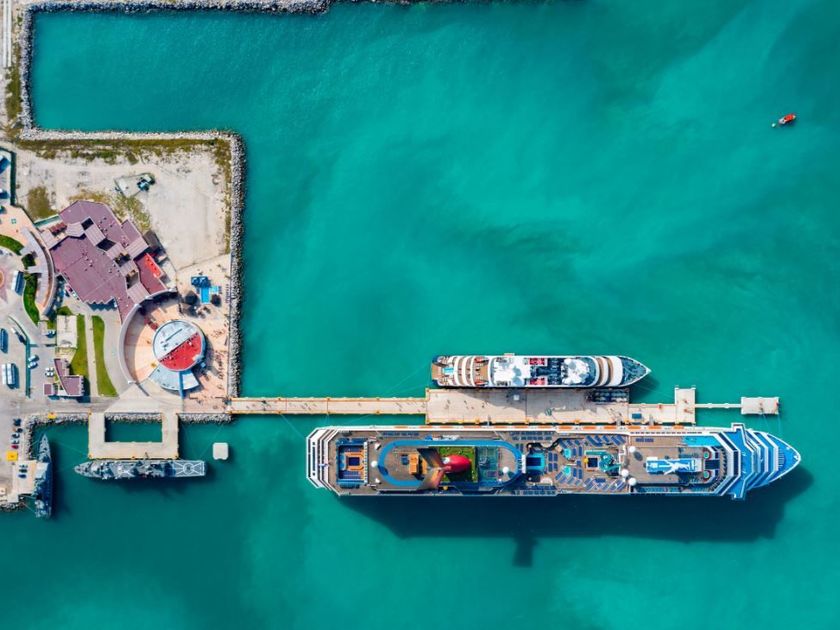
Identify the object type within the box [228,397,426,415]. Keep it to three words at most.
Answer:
pier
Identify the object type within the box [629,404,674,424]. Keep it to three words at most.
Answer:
pier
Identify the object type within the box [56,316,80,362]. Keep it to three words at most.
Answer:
building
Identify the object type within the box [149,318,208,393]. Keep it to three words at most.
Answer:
building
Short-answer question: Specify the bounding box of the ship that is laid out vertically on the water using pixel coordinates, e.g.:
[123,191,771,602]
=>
[34,434,56,517]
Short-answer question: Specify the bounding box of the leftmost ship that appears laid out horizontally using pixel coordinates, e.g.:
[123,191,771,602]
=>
[74,459,208,479]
